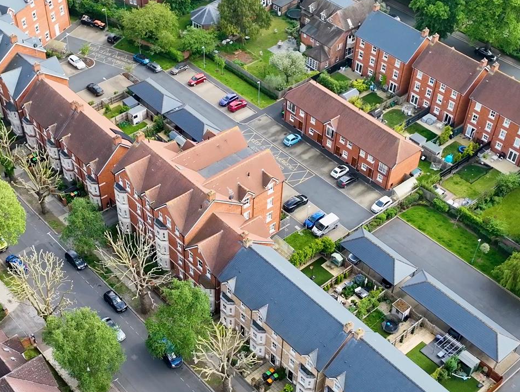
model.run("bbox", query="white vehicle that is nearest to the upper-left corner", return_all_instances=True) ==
[69,54,87,70]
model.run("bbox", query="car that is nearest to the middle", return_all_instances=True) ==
[282,194,310,213]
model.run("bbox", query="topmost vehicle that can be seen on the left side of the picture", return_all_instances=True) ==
[105,33,126,46]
